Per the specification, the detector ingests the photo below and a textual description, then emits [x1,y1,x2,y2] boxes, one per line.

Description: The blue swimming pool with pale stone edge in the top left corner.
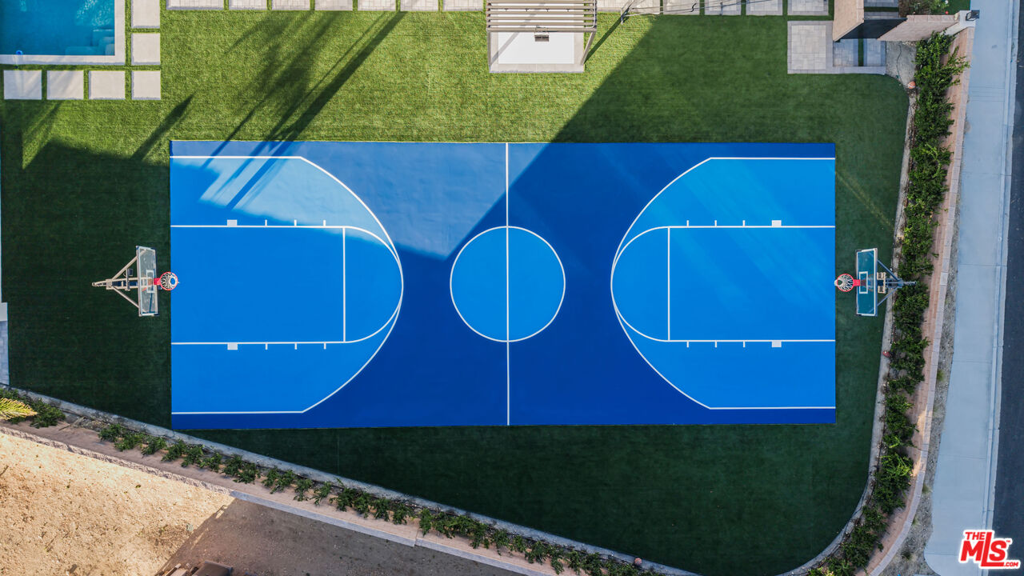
[0,0,127,66]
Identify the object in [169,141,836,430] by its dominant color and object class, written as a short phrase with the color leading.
blue basketball court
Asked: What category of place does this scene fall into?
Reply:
sports ground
